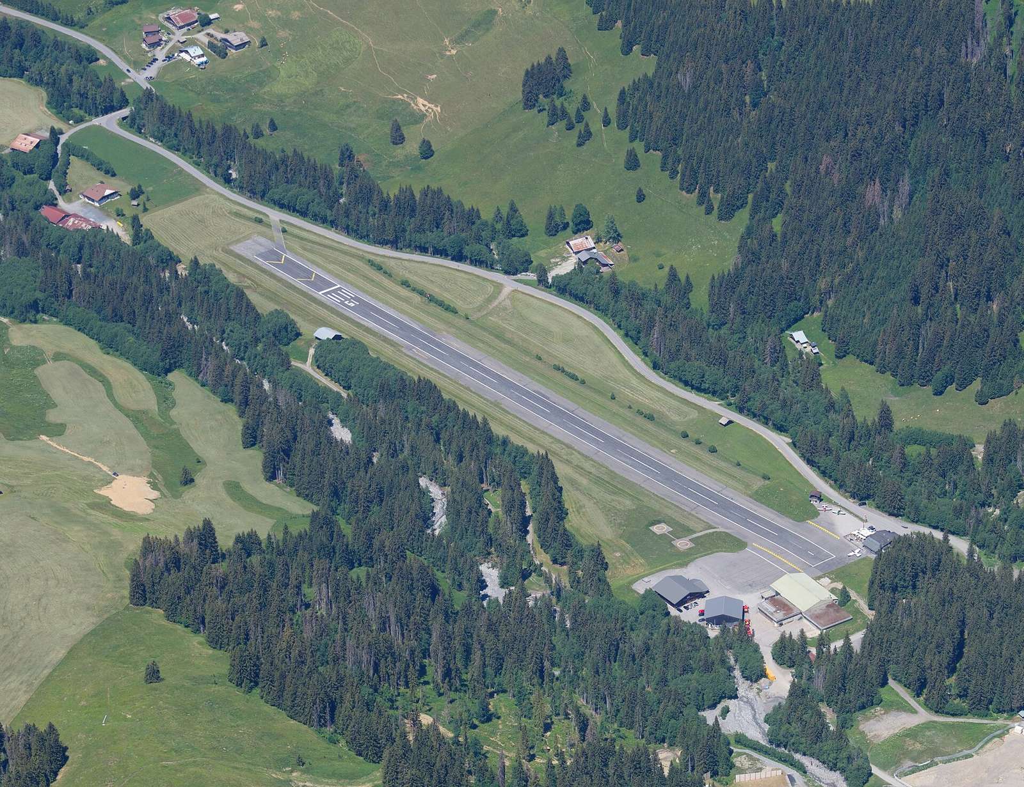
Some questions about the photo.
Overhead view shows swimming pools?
No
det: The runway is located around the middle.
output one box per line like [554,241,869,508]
[255,248,834,566]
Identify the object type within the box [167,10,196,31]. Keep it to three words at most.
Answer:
barn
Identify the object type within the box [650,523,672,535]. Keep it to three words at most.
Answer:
helipad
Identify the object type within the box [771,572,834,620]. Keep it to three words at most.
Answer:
hangar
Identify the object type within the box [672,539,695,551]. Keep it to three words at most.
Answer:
helipad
